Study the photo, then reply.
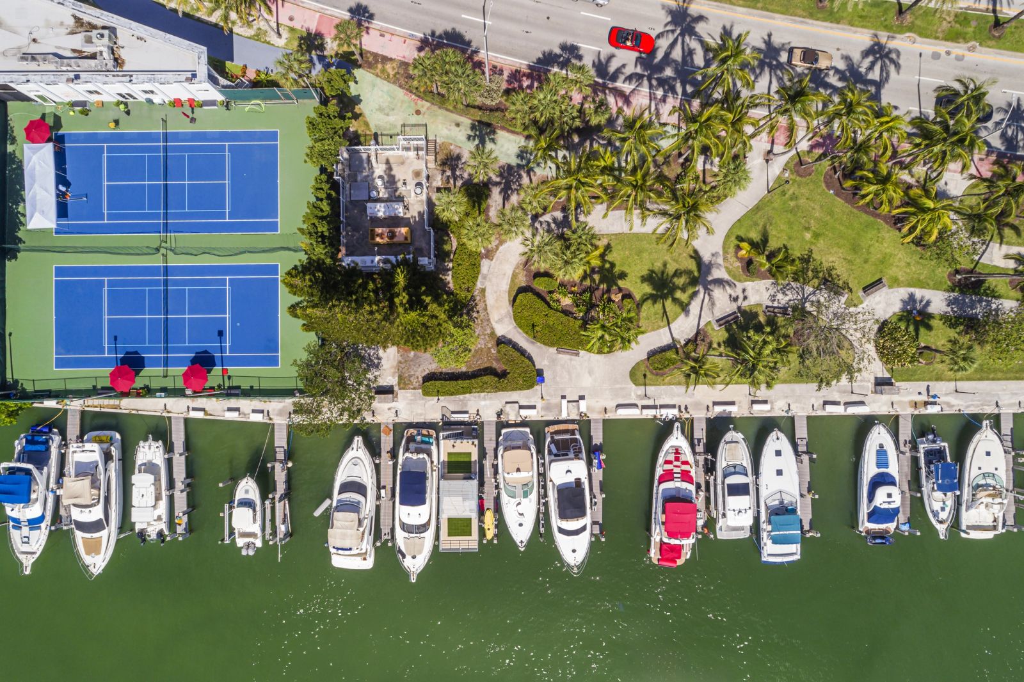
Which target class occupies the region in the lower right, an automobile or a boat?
boat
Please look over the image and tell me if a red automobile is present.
Yes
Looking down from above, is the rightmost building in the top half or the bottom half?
top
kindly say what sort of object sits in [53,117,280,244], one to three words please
tennis court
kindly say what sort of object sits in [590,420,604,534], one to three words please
pier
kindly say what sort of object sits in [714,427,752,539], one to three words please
boat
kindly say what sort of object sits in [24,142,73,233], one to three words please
tent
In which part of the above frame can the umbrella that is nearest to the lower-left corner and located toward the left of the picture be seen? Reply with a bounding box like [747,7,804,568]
[110,365,139,391]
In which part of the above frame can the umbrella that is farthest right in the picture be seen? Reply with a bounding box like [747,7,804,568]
[183,364,209,390]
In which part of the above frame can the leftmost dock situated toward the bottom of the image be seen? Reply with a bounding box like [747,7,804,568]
[59,408,83,525]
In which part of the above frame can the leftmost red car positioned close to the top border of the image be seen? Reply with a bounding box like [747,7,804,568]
[607,27,654,56]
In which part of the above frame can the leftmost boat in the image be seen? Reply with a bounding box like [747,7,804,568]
[0,424,61,573]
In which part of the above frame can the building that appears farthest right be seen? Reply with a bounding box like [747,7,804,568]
[333,135,434,271]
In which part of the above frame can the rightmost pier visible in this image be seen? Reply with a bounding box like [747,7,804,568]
[998,413,1016,525]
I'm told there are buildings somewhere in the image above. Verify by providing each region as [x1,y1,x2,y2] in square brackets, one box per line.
[333,135,434,271]
[0,0,228,110]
